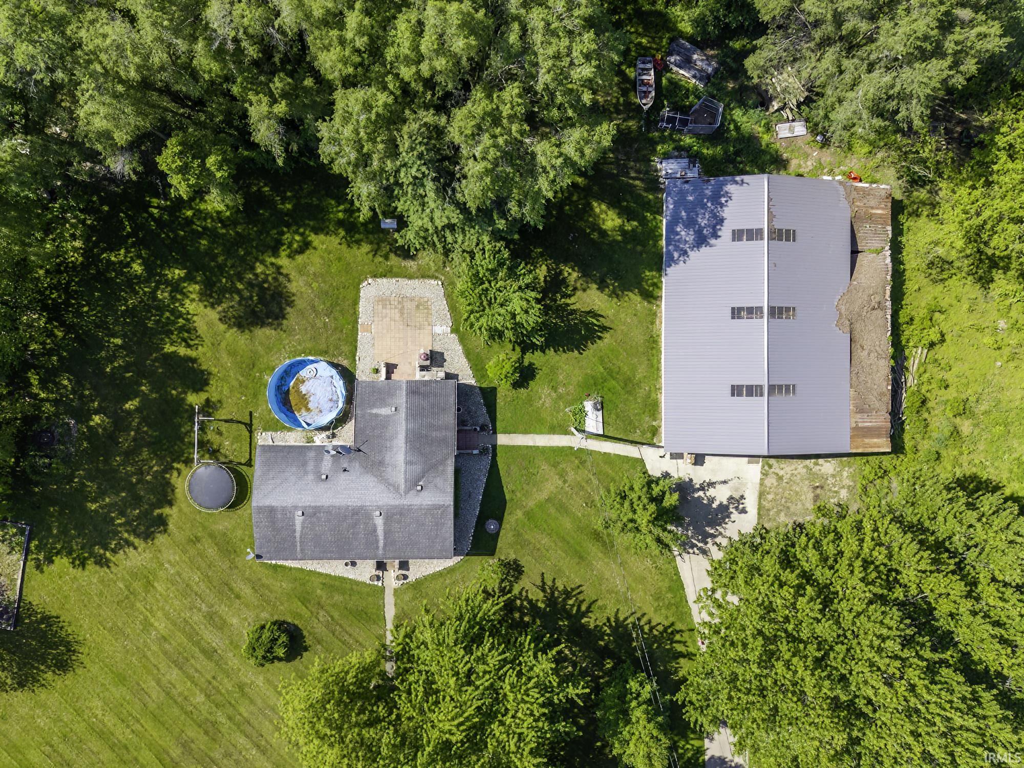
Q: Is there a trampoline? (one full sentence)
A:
Yes, I can see a trampoline in this picture.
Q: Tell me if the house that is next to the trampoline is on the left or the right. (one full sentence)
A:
The house that is next to the trampoline sits on the left side.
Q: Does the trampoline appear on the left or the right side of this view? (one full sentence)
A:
The trampoline sits on the left side.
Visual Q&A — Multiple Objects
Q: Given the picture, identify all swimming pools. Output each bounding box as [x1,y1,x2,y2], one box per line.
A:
[266,356,350,431]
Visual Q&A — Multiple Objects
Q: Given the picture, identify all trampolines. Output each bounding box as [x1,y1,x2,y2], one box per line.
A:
[185,463,236,512]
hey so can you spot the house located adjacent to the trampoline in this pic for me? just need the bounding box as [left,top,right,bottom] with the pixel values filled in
[249,380,458,561]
